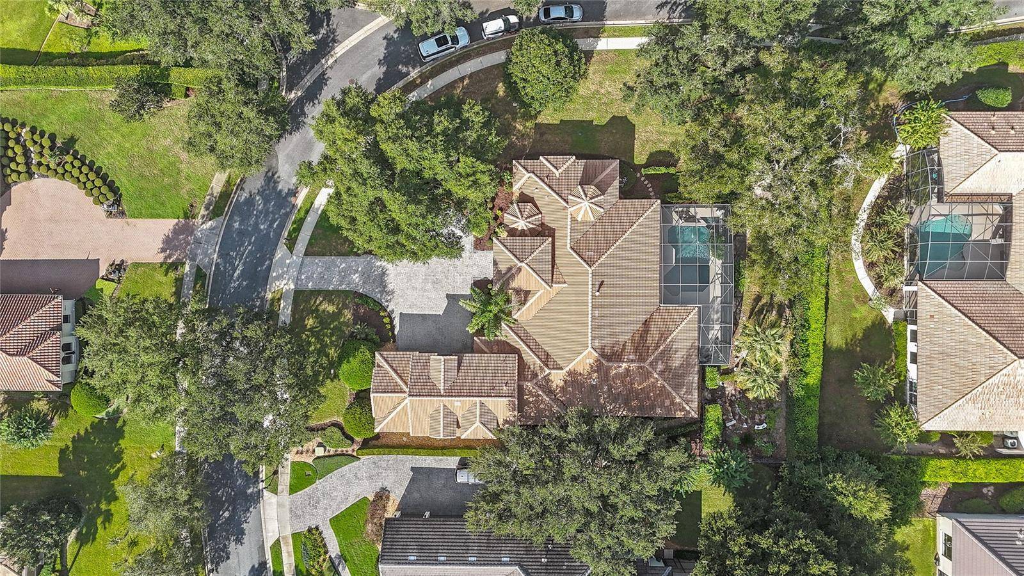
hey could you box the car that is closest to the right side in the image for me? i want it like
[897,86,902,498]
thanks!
[538,2,583,25]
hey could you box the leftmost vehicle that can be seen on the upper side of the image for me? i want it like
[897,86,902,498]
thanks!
[417,29,471,61]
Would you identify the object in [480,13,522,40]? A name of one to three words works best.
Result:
car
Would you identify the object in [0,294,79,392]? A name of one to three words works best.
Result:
house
